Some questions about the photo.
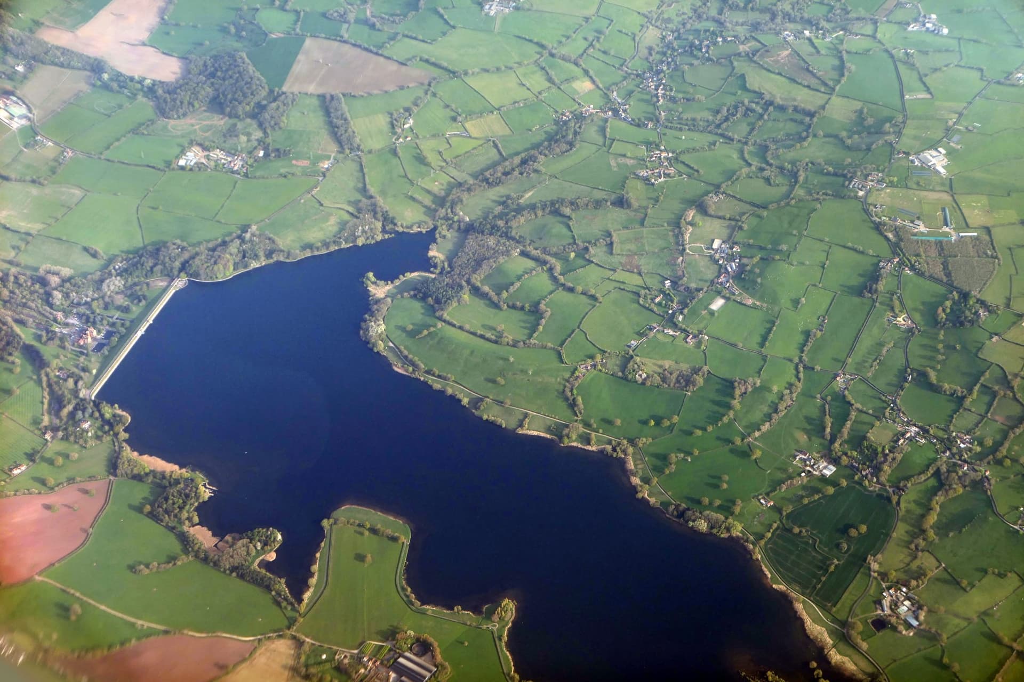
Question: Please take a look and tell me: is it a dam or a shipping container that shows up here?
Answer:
dam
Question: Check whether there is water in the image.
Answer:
Yes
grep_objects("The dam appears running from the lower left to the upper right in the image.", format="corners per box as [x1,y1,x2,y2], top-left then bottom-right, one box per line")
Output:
[82,287,177,398]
